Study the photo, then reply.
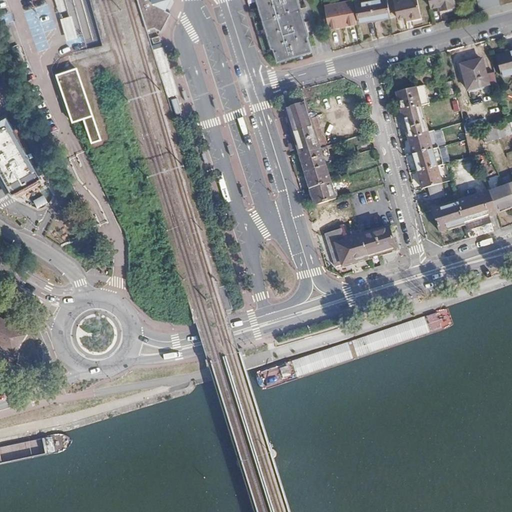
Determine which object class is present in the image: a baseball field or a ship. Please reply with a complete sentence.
I can see a ship in this picture.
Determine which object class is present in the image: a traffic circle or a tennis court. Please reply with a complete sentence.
There is a traffic circle in the scene.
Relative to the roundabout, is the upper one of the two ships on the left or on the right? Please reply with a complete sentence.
Compared with the roundabout, the upper one of the two ships is located further to the right.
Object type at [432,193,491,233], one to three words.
house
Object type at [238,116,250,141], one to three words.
vehicle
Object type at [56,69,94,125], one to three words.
building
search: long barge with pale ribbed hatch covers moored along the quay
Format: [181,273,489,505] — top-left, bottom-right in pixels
[256,312,454,386]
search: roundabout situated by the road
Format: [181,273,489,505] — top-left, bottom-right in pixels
[52,288,143,379]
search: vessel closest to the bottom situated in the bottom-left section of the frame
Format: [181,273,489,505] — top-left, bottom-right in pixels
[0,435,72,465]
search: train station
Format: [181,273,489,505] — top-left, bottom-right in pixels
[65,0,98,48]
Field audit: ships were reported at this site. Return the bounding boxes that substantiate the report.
[256,312,454,386]
[0,435,72,465]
